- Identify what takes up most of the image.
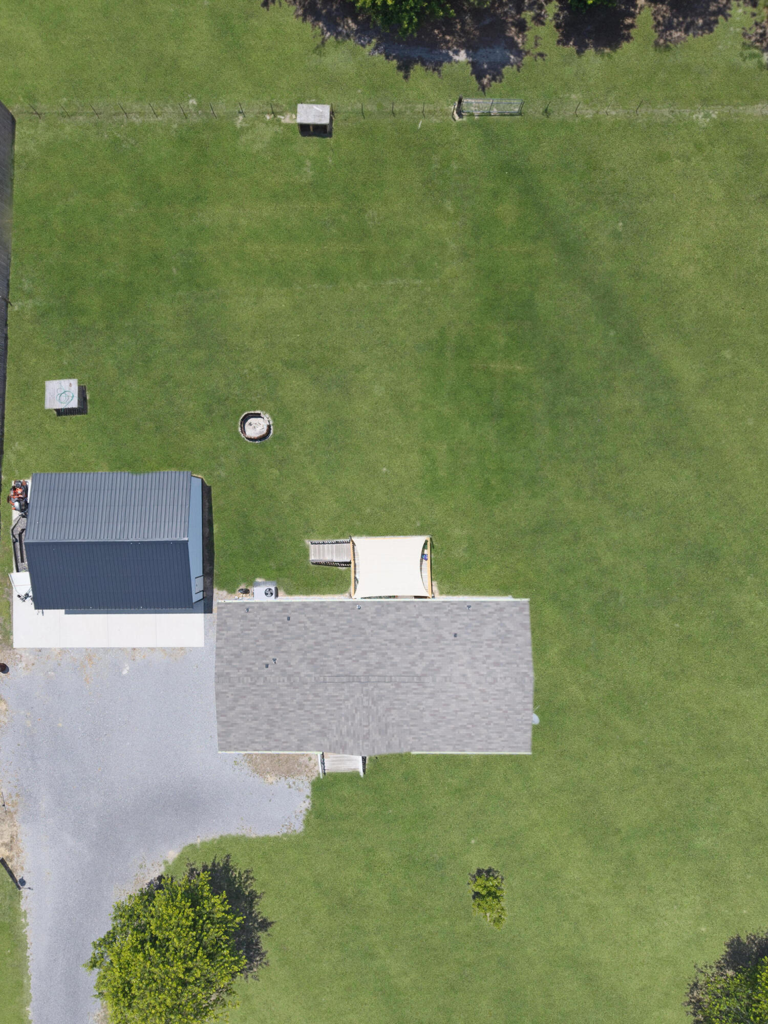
grass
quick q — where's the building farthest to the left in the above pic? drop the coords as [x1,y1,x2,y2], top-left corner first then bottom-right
[23,471,207,610]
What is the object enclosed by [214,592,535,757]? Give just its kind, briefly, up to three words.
house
